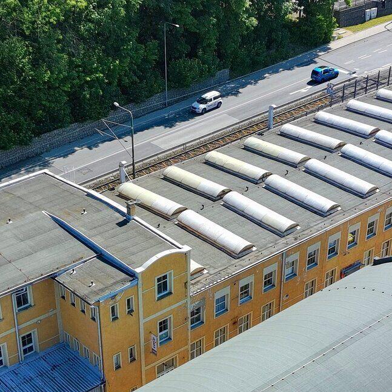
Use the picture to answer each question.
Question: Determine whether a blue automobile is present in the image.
Yes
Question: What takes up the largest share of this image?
buildings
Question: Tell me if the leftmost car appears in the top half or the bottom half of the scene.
top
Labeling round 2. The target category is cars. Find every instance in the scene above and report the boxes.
[190,89,225,112]
[311,62,340,82]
